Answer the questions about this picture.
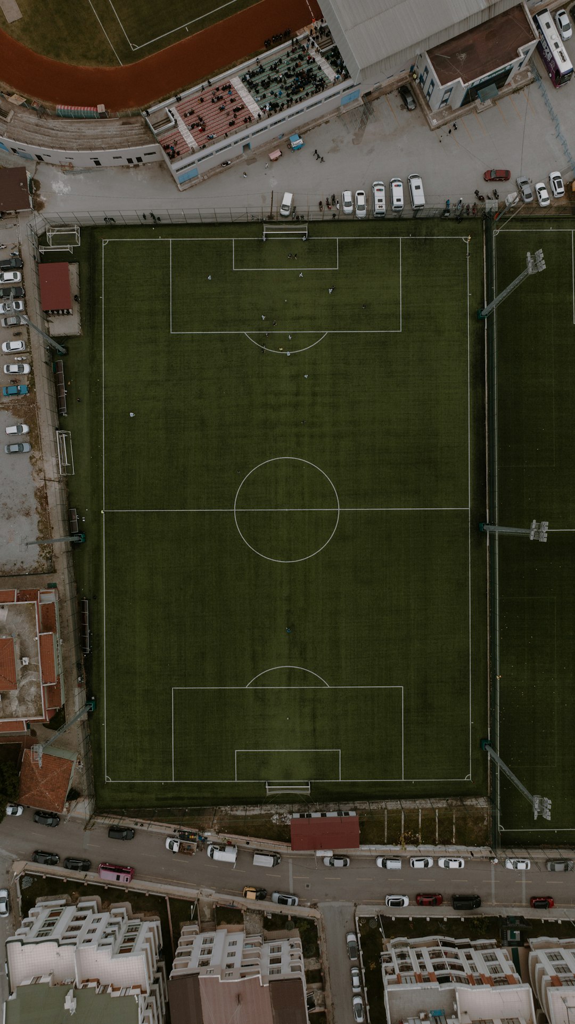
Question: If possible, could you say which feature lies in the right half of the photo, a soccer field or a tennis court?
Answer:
soccer field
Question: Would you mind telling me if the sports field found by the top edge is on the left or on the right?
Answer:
left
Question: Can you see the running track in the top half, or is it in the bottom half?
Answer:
top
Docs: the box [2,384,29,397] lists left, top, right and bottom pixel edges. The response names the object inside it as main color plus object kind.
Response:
blue vehicle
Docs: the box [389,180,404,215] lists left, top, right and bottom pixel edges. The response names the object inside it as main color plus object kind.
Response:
white vehicle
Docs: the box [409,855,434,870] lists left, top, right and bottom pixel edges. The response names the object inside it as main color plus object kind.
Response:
white car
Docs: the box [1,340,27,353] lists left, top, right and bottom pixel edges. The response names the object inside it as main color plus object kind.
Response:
white vehicle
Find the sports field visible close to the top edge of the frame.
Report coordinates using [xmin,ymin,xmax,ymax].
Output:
[0,0,261,67]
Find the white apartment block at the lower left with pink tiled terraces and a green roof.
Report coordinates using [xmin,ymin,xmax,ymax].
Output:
[4,896,174,1024]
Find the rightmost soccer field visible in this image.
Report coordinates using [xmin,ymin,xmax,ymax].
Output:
[498,216,575,849]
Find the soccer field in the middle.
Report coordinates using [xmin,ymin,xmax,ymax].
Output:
[39,219,489,803]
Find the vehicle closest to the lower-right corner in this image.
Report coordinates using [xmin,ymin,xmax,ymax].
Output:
[530,895,555,910]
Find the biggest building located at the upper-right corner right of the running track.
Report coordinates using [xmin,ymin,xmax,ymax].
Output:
[412,5,541,131]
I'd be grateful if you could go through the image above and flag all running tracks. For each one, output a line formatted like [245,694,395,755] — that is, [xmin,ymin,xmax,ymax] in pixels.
[0,0,337,111]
